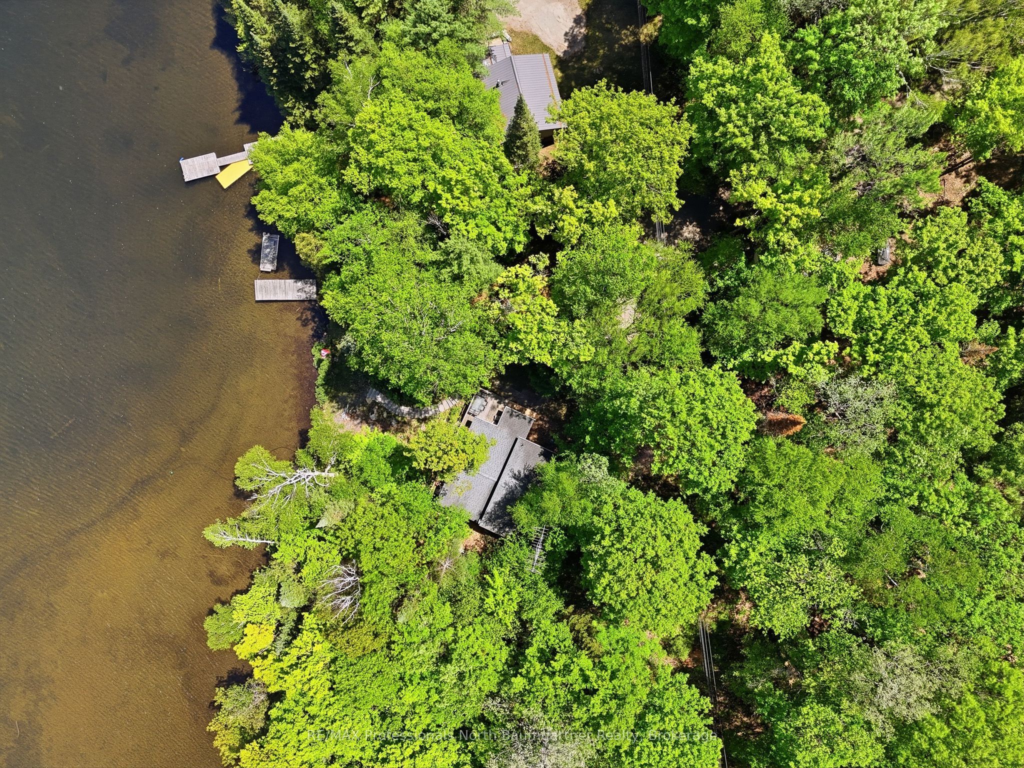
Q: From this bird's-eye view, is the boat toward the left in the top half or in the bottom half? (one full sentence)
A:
You can find the boat toward the left in the top half.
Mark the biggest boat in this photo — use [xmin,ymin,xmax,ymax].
[258,231,280,272]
